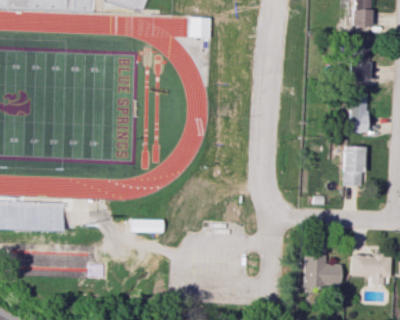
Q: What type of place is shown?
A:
sports ground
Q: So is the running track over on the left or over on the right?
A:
left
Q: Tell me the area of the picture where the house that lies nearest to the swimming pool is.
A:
bottom right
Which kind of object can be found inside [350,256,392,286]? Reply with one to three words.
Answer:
house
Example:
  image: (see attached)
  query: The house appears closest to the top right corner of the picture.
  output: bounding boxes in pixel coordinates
[354,0,374,28]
